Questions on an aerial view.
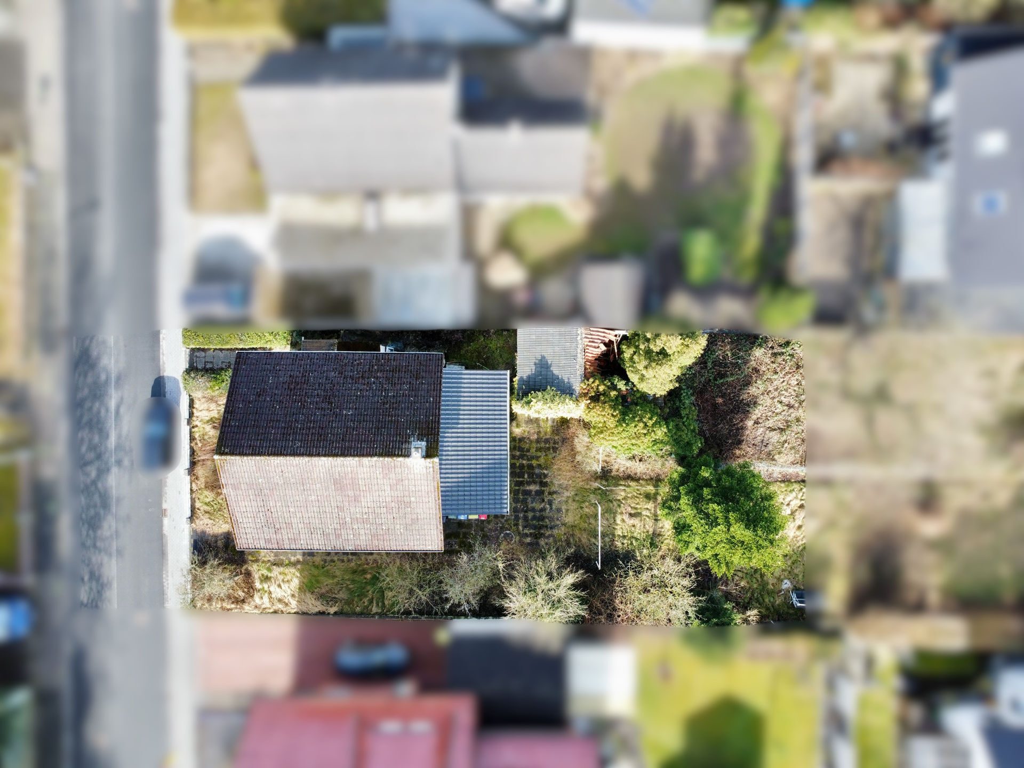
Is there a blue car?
Yes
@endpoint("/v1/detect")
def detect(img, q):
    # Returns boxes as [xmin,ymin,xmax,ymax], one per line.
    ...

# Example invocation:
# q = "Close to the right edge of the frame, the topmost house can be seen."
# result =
[910,32,1024,294]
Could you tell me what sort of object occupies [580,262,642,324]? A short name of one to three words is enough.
shed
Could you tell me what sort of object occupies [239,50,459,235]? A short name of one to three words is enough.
house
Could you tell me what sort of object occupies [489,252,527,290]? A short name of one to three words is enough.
umbrella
